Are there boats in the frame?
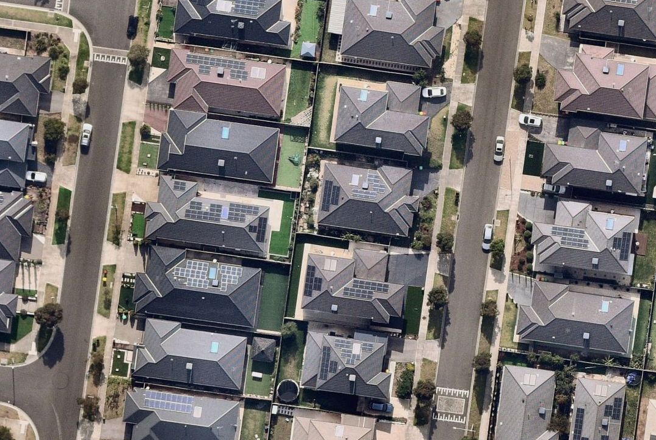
No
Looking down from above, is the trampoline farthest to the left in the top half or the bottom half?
bottom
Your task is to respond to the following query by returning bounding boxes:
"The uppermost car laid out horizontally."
[421,86,446,99]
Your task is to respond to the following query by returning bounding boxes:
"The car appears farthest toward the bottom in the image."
[369,400,394,414]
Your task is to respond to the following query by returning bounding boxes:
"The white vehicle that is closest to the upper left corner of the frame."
[80,121,93,149]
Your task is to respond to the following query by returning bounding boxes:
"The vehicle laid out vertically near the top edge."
[127,15,140,40]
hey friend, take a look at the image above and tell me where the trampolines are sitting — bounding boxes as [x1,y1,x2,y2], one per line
[277,379,299,401]
[626,372,639,385]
